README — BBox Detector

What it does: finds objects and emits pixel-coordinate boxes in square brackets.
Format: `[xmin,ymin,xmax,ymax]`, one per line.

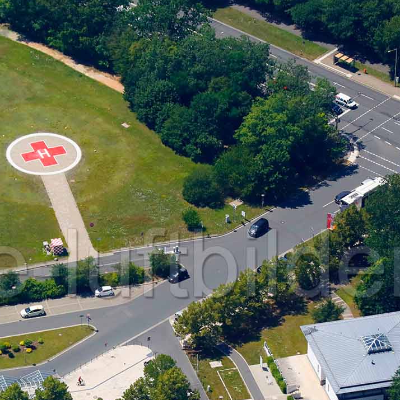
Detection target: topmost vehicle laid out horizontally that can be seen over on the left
[92,283,115,297]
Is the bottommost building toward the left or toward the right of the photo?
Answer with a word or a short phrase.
right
